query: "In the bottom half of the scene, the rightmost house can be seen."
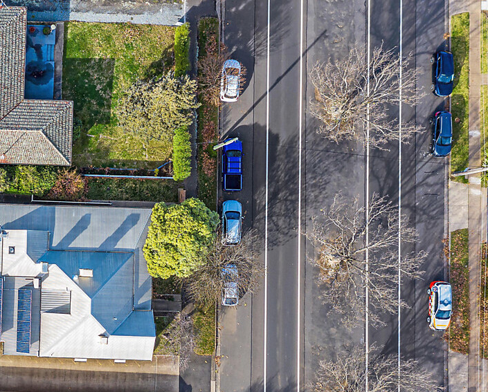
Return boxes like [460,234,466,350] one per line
[32,248,156,363]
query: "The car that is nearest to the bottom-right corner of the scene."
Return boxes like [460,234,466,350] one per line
[426,282,453,330]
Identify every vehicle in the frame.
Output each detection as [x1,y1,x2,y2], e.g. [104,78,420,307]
[221,137,245,189]
[220,57,242,103]
[428,110,454,158]
[426,282,453,330]
[221,200,245,245]
[430,50,456,97]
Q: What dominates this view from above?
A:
paved ground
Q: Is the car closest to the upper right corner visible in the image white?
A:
No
